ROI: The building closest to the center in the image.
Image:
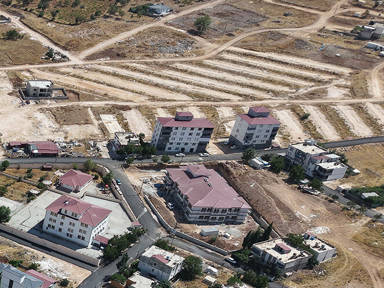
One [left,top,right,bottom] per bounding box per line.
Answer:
[152,111,214,152]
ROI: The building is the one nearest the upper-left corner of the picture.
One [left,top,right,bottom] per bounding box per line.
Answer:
[24,80,53,96]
